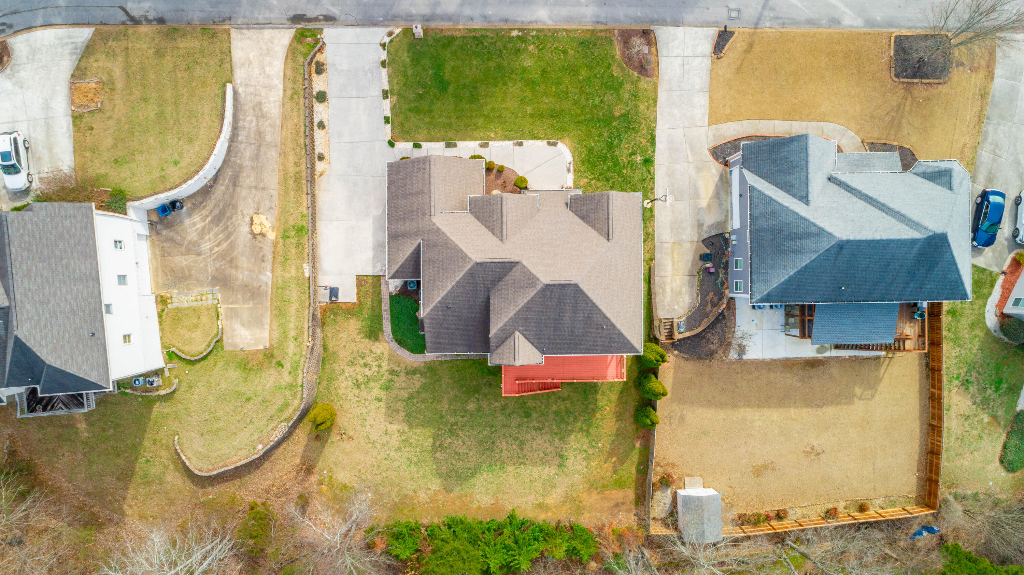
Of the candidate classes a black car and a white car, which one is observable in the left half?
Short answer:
white car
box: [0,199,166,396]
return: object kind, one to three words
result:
house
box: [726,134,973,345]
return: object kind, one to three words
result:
house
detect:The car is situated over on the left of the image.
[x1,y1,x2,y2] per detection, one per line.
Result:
[0,131,35,193]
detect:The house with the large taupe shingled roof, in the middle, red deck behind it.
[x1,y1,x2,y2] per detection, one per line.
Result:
[385,155,643,366]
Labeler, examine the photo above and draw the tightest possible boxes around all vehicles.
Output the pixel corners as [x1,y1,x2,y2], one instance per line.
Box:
[1014,191,1024,246]
[971,192,1008,247]
[0,131,35,193]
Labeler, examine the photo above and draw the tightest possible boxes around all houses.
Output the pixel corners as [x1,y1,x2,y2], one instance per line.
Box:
[1000,267,1024,319]
[0,199,166,396]
[385,155,643,366]
[726,134,973,345]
